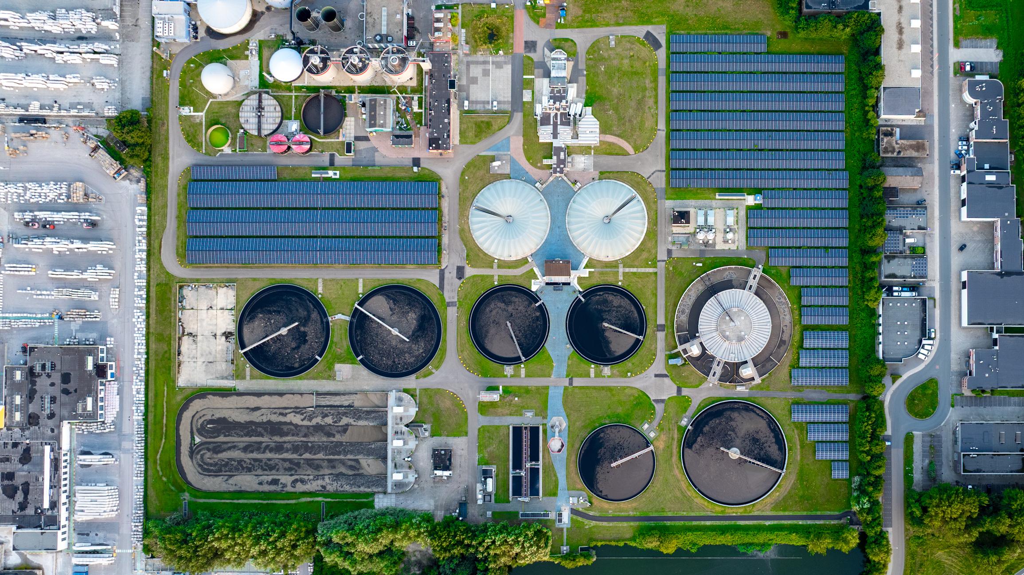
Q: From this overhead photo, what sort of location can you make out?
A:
industrial area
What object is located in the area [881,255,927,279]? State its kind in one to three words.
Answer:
building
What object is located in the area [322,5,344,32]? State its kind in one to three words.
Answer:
silo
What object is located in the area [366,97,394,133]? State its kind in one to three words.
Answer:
shed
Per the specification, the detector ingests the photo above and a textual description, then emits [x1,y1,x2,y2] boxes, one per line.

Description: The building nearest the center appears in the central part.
[527,256,594,291]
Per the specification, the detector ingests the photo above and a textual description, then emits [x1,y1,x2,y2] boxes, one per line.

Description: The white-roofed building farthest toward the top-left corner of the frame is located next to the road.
[151,0,191,43]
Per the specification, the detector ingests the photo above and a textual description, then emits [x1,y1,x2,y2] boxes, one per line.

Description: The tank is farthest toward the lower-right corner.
[681,400,789,508]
